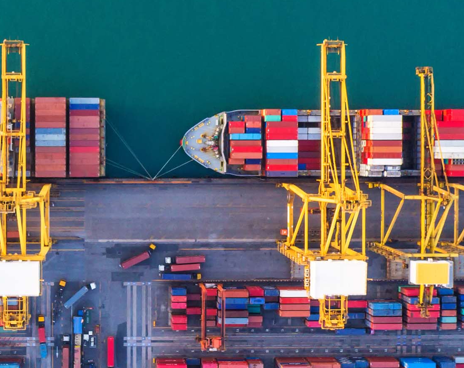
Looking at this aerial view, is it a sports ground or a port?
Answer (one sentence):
The picture captures a port.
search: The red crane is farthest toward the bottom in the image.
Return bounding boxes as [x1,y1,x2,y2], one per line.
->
[195,281,227,355]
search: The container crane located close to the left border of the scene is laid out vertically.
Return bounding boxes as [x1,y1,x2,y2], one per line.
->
[0,39,62,328]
